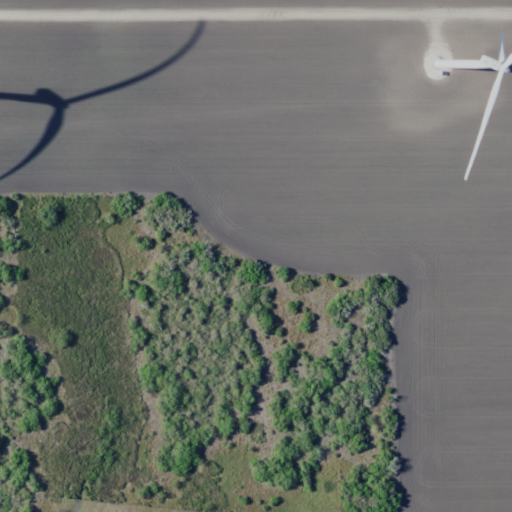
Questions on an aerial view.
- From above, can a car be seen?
No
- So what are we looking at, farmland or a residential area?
farmland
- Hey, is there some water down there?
No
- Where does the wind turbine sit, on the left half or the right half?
right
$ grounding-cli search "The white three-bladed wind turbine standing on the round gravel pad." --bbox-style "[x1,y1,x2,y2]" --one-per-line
[432,33,512,183]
